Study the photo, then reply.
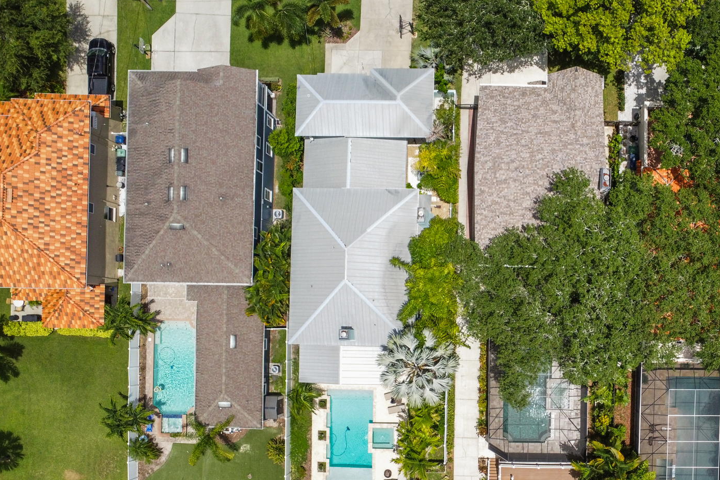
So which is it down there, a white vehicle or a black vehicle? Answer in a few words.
black vehicle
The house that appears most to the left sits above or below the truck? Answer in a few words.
below it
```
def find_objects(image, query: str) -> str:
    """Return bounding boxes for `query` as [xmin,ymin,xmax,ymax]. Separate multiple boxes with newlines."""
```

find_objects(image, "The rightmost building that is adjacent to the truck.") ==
[123,64,278,430]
